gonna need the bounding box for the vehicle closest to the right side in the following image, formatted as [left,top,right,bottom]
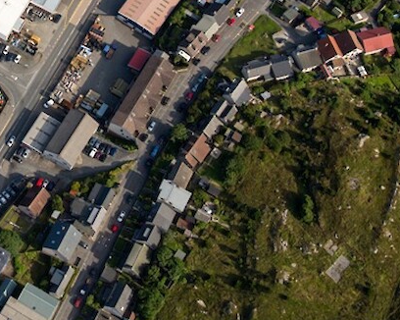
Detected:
[356,63,368,79]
